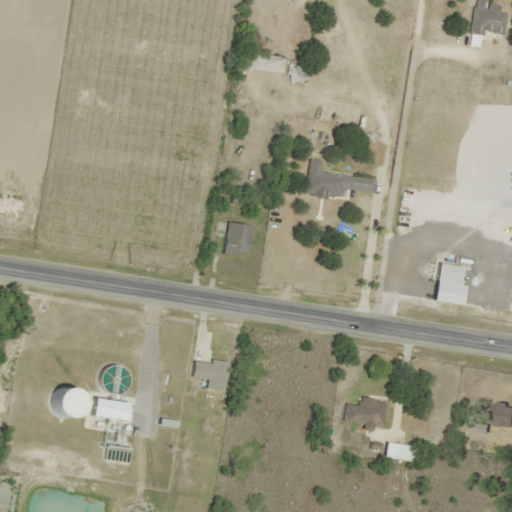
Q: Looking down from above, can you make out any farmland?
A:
Yes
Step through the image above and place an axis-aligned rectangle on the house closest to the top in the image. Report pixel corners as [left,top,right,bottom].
[467,0,506,38]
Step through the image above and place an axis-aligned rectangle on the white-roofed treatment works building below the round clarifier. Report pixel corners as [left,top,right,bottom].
[94,398,134,420]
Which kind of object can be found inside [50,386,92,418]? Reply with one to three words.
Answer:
storage tank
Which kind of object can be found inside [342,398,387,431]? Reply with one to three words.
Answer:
house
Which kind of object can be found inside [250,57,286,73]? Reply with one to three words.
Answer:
house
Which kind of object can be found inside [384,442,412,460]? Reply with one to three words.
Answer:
shed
